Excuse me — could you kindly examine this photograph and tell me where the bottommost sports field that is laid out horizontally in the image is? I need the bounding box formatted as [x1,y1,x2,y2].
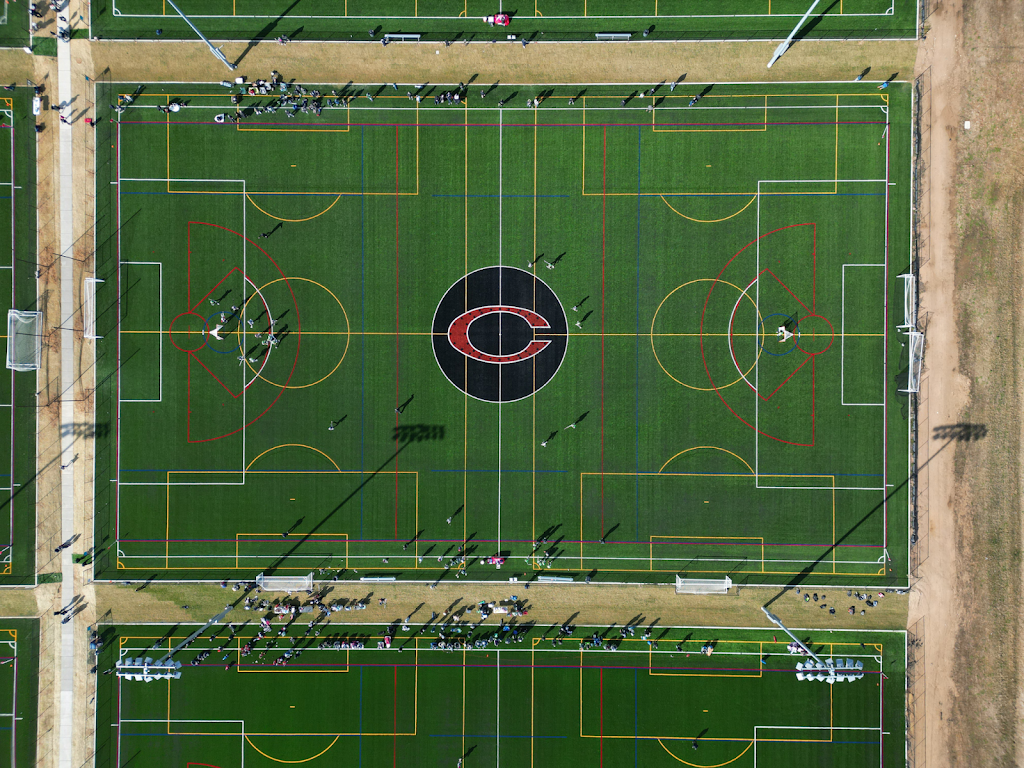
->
[94,624,908,768]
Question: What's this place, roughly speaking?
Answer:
sports ground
